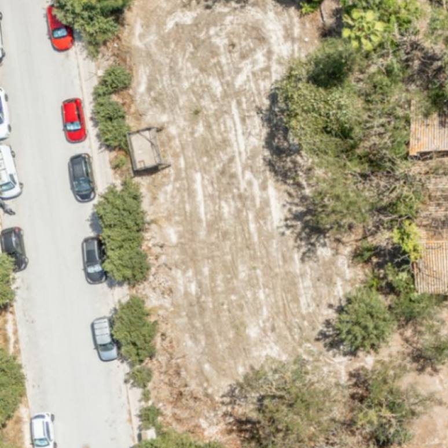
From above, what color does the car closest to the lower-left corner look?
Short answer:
white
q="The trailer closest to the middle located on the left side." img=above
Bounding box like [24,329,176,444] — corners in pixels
[123,128,171,172]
